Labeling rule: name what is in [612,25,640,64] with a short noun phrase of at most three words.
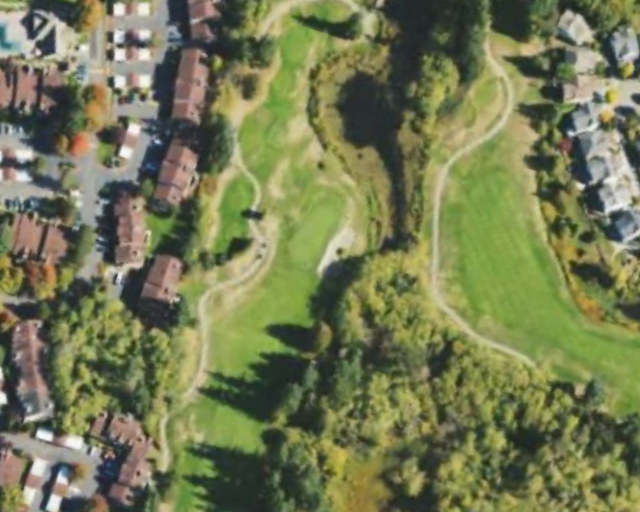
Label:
house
